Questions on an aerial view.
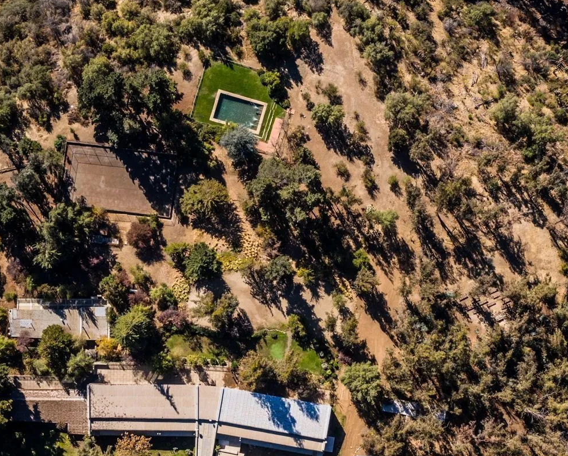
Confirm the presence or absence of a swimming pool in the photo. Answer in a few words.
Yes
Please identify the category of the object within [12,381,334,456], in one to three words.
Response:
building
